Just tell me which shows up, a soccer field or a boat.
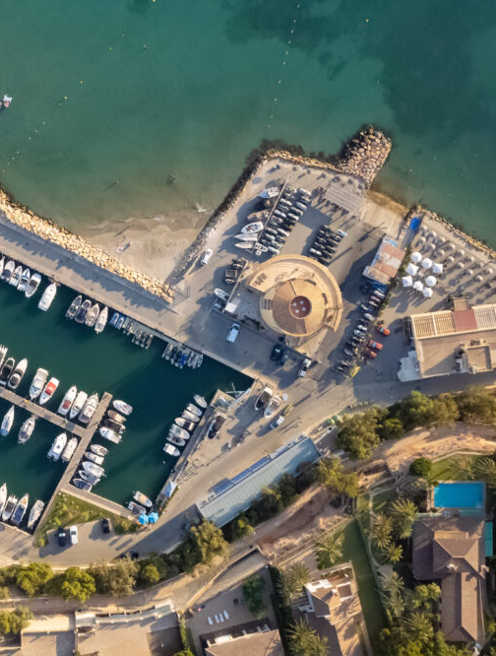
boat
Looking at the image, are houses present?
Yes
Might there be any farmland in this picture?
No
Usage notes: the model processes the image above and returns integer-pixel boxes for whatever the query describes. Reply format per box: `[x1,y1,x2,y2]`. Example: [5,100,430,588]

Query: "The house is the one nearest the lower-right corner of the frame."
[409,509,494,642]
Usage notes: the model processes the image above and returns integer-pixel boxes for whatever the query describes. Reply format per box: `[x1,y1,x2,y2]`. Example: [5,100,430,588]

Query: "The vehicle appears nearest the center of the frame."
[227,322,240,342]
